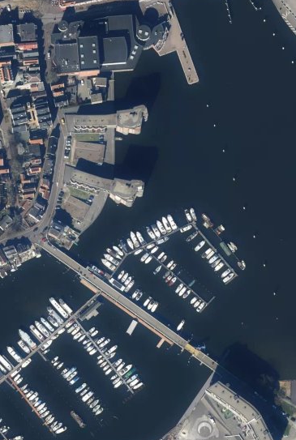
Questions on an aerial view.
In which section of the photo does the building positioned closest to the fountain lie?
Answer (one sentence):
The building positioned closest to the fountain is in the bottom right part of the image.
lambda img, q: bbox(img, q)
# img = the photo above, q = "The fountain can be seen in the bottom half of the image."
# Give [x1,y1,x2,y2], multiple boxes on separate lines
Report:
[196,421,214,438]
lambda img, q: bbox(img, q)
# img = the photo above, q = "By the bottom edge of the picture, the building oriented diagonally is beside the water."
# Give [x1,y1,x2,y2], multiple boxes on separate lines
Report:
[207,381,274,440]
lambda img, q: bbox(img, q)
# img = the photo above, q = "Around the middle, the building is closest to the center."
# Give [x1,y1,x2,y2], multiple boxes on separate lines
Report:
[113,179,145,207]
